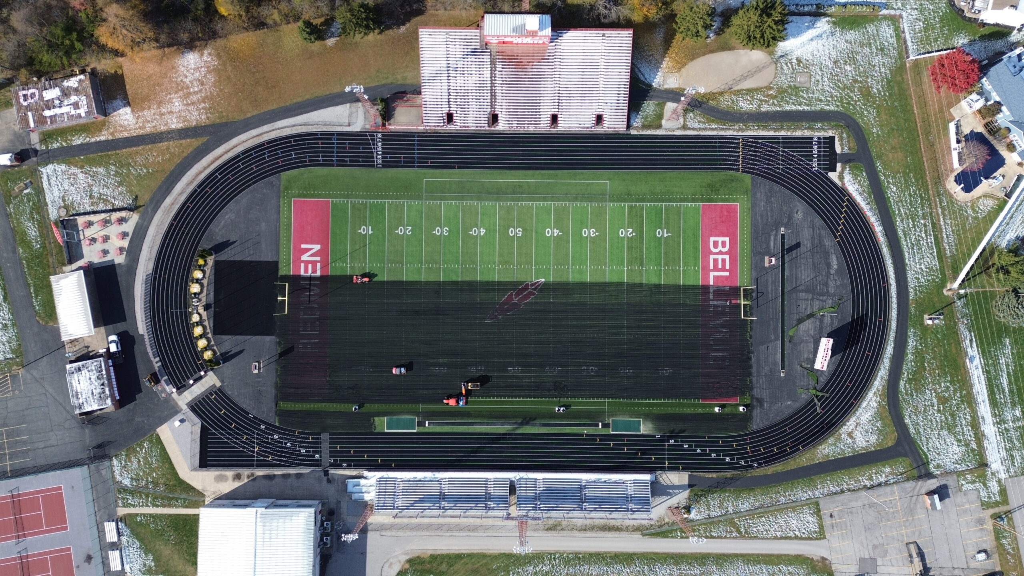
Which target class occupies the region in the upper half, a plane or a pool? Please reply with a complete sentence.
It is a pool that can be seen in the upper half.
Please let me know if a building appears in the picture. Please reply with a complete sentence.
Yes, there's a building here.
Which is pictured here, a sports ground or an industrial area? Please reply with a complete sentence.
It's a sports ground.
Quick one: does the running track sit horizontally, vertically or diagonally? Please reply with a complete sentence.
From this overhead view, the running track appears to run horizontally.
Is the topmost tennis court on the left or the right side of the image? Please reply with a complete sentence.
You can find the topmost tennis court on the left side of the picture.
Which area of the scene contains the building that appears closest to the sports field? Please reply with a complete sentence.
The building that appears closest to the sports field is located in the bottom left region of the scene.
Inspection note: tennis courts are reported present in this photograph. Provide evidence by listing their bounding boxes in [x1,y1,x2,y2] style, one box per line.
[0,546,76,576]
[0,486,69,544]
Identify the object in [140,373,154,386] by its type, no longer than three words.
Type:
vehicle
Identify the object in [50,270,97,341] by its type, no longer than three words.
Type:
building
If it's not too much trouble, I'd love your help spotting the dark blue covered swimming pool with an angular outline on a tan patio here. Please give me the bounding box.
[954,130,1006,193]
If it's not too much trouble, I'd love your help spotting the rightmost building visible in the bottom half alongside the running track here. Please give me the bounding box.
[197,495,323,576]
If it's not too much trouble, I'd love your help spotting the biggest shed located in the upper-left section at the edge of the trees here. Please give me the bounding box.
[10,73,105,133]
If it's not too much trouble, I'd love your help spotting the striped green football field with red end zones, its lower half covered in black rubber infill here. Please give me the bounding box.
[276,169,752,434]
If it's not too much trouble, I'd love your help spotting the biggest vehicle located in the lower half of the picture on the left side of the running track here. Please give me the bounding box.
[109,337,123,362]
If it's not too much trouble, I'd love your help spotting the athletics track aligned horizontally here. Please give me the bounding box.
[151,132,889,472]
